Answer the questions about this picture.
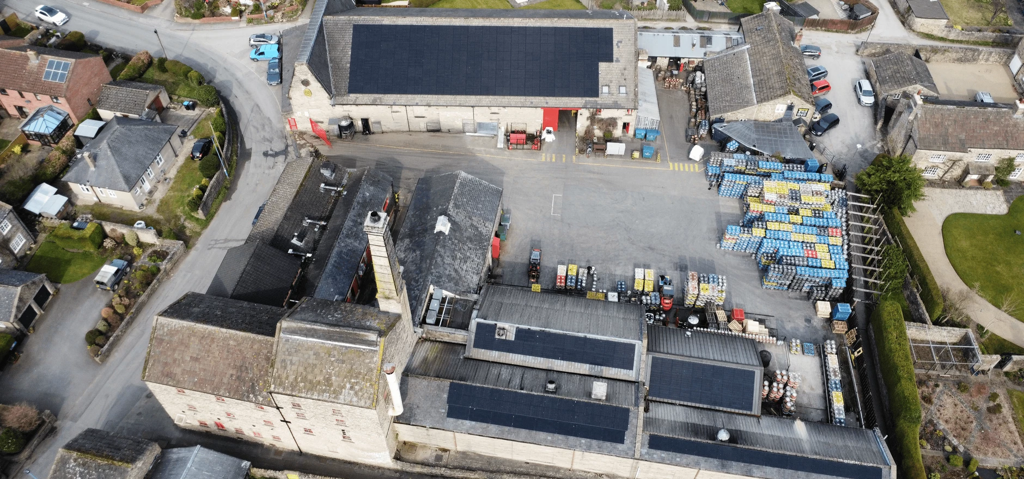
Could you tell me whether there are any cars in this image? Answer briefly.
Yes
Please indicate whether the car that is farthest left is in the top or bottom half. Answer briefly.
top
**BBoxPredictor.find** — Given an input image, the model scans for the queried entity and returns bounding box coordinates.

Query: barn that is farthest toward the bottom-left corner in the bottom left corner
[51,428,166,479]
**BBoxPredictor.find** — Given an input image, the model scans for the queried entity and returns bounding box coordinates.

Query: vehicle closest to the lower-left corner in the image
[87,254,131,293]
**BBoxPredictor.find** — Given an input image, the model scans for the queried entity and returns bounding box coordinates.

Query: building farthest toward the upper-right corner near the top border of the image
[990,16,1024,94]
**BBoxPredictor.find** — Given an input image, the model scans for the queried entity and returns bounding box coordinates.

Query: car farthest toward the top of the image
[31,3,66,25]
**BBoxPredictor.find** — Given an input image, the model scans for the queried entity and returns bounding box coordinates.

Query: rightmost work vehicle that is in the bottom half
[658,279,677,315]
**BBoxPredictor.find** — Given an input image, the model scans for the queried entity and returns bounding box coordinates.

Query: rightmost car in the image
[967,83,1004,101]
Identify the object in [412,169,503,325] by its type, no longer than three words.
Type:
building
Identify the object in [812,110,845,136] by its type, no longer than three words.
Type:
car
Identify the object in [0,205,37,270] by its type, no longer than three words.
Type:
house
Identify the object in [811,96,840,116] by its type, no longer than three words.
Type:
car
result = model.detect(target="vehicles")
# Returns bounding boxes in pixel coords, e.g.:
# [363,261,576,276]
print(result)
[31,3,66,25]
[854,75,877,106]
[658,279,677,315]
[967,83,1004,101]
[587,142,593,157]
[247,43,282,63]
[811,96,840,116]
[245,30,280,48]
[806,65,836,85]
[812,110,845,136]
[810,80,838,100]
[264,55,282,82]
[87,254,131,293]
[189,135,211,161]
[529,247,541,282]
